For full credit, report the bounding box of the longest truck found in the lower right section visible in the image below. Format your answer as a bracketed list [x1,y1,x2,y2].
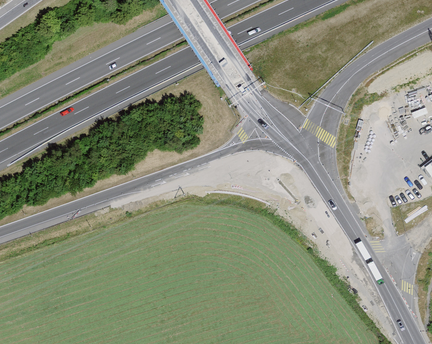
[356,241,386,284]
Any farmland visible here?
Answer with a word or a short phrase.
Yes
